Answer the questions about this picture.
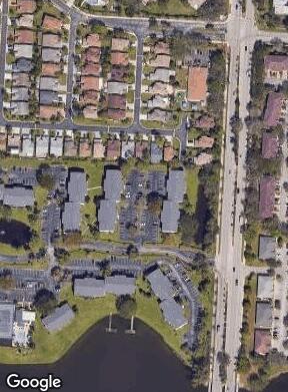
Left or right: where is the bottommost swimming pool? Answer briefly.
left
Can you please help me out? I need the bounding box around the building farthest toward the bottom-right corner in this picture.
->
[255,328,269,356]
